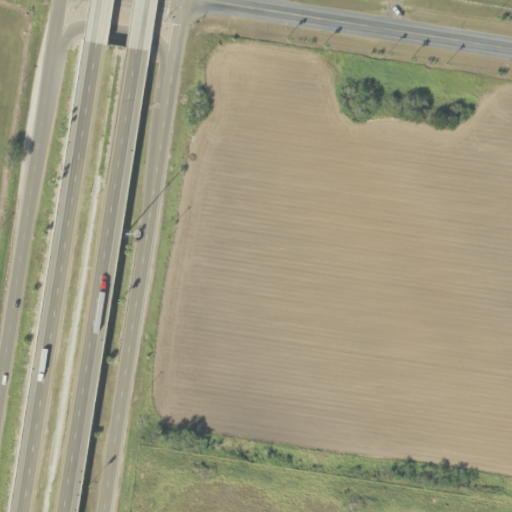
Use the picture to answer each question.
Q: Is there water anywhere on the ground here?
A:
No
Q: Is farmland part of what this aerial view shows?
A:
Yes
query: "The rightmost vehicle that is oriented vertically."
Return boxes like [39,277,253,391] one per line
[92,278,106,334]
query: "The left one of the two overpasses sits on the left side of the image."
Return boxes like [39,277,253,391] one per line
[84,0,114,46]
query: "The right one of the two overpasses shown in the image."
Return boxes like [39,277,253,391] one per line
[126,0,160,50]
